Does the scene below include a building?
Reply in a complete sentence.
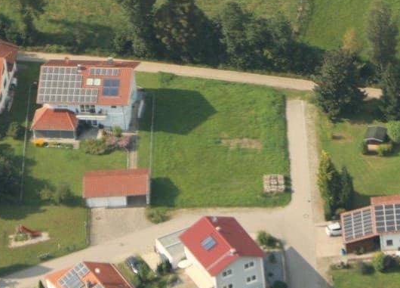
Yes, the image includes a building.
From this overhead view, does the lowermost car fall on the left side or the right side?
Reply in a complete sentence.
The lowermost car sits on the left side.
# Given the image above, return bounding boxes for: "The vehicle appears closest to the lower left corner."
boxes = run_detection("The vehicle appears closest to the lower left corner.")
[122,255,146,275]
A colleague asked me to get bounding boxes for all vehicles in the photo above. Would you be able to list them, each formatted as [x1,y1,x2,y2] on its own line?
[122,255,146,275]
[321,222,344,237]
